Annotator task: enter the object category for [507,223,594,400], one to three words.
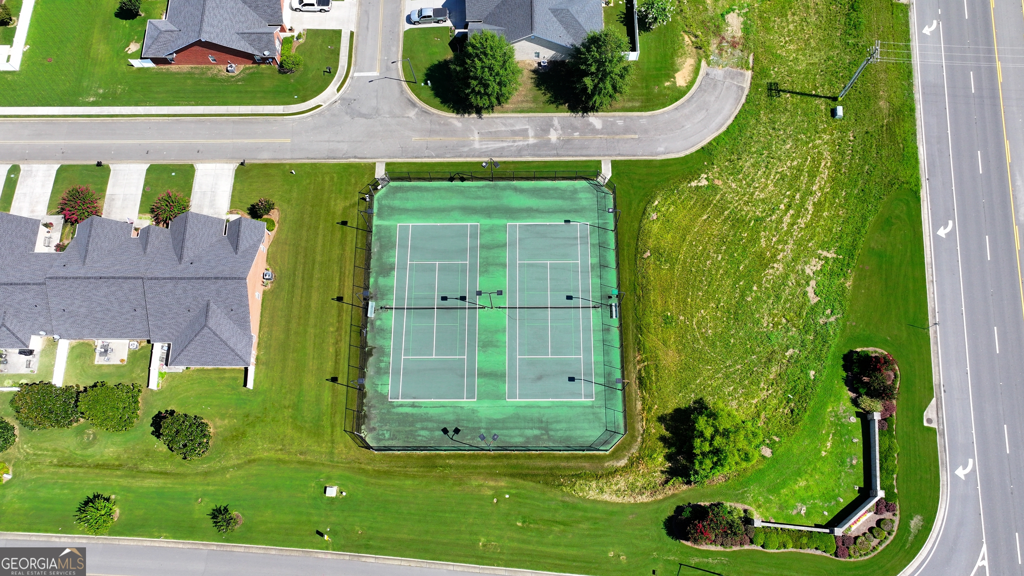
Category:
tennis court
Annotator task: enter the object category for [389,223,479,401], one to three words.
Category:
tennis court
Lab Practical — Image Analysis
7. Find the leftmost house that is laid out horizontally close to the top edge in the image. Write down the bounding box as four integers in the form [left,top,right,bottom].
[141,0,288,66]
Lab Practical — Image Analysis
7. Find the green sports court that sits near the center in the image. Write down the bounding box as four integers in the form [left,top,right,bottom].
[361,180,625,452]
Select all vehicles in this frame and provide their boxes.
[409,7,447,26]
[289,0,331,13]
